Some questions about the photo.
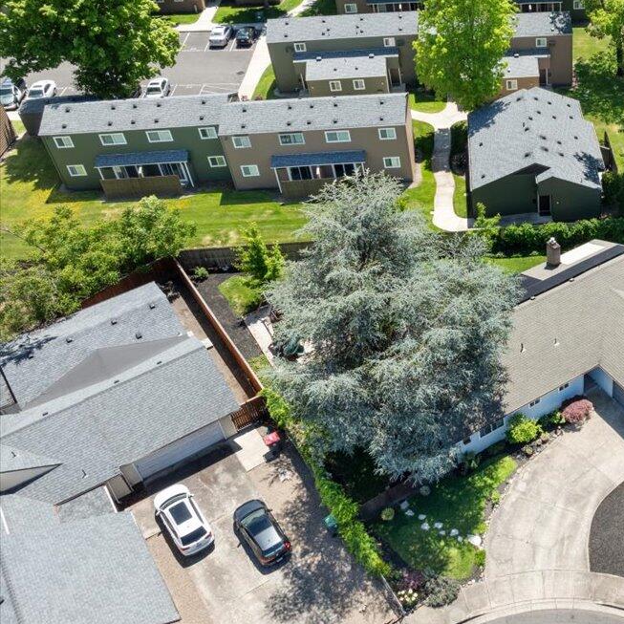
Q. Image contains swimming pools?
No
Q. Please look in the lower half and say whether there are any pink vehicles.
No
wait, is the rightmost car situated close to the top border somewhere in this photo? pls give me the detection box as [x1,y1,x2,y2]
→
[234,27,258,45]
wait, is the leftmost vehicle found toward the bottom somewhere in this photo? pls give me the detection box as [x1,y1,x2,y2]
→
[150,482,214,560]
